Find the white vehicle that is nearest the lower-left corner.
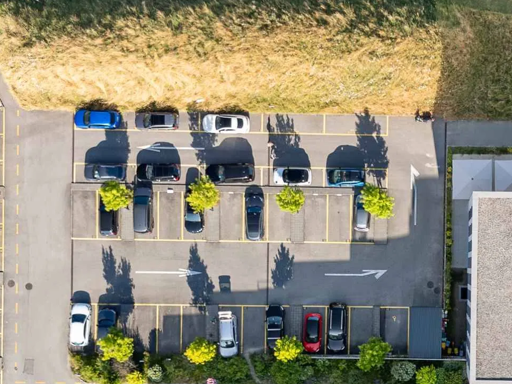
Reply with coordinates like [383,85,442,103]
[69,302,93,348]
